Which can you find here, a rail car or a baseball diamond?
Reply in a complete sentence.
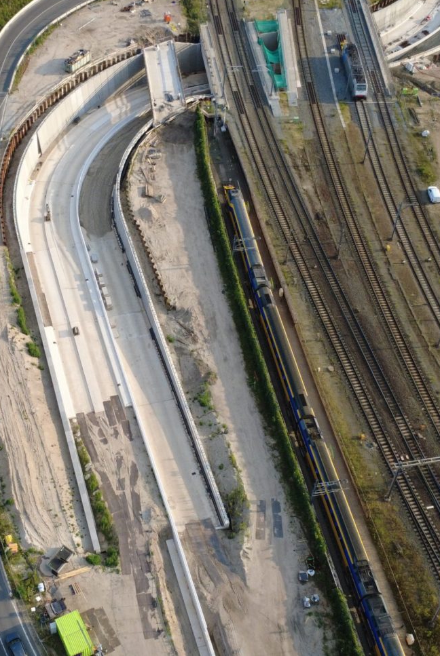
The image shows a rail car.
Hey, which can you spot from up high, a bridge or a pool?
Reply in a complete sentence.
I can see a bridge in this picture.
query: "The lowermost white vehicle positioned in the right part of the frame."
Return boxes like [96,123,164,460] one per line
[427,184,440,202]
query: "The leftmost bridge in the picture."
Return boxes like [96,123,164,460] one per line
[143,39,185,128]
